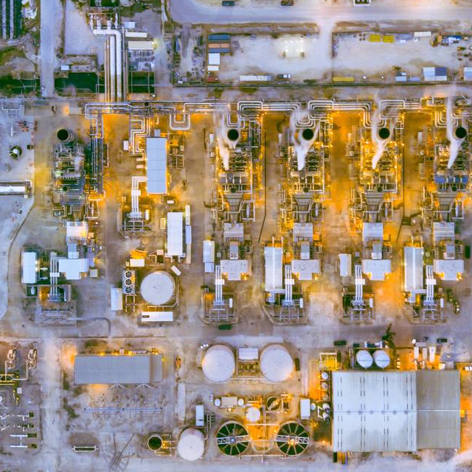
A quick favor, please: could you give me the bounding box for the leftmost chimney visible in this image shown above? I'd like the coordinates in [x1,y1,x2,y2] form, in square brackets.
[55,126,85,147]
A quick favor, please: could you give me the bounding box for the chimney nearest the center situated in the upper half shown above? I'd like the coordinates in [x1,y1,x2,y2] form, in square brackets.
[226,127,241,147]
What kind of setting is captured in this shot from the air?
industrial area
